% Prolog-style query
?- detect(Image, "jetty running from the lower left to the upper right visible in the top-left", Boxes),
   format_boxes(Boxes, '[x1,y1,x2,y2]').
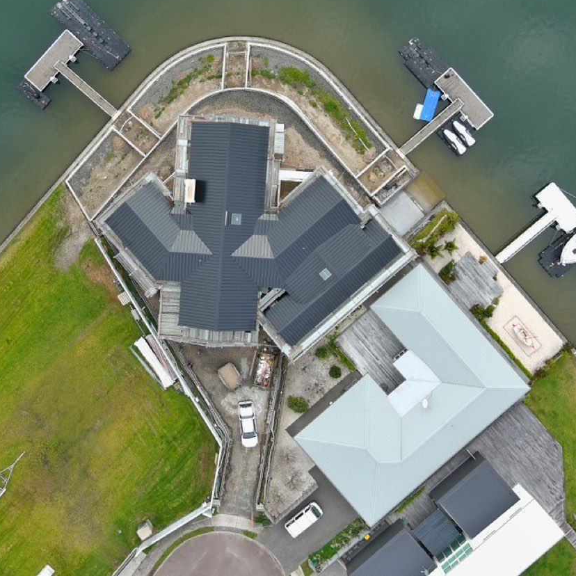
[24,29,84,91]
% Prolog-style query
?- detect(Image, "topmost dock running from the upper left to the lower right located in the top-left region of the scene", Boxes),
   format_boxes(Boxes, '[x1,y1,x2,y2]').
[50,0,132,71]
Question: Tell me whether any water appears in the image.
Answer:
Yes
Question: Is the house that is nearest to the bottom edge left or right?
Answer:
right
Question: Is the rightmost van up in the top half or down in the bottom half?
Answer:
bottom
